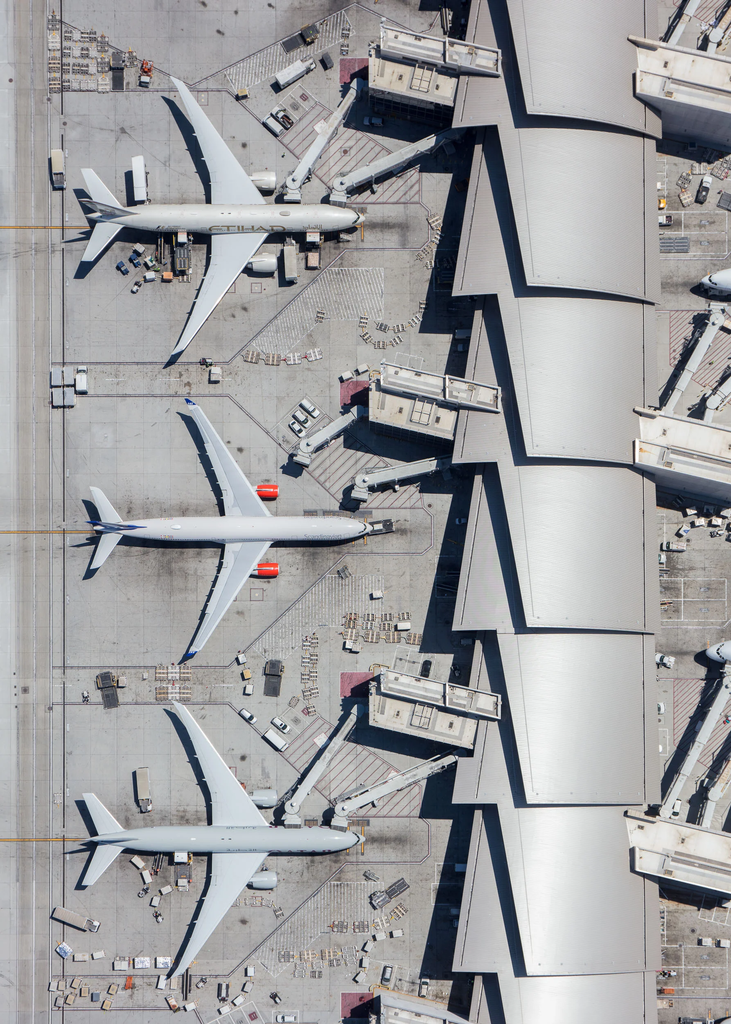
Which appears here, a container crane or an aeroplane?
aeroplane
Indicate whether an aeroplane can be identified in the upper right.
Yes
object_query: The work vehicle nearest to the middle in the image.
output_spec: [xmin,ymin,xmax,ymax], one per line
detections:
[368,518,396,536]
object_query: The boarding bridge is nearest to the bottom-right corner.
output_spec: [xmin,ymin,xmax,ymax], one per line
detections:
[699,751,731,827]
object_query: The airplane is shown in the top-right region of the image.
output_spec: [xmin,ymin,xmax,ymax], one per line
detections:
[701,267,731,292]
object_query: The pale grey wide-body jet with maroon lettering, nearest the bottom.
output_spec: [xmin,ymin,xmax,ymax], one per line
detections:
[78,699,366,978]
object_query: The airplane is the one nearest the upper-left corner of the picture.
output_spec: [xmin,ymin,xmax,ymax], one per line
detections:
[78,75,365,353]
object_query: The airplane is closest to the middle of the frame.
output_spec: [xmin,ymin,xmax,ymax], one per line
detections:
[86,395,373,656]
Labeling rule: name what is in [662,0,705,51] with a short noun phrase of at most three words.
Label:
jet bridge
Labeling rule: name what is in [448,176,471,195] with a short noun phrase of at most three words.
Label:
vehicle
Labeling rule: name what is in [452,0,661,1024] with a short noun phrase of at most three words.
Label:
building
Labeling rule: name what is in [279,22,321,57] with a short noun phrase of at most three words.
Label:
work vehicle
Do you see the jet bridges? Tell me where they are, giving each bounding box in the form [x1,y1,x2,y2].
[280,702,369,826]
[662,0,705,51]
[348,449,461,503]
[280,77,370,204]
[328,748,466,830]
[659,299,731,419]
[326,119,461,207]
[699,751,731,827]
[701,370,731,425]
[291,403,369,470]
[703,0,731,58]
[655,660,731,821]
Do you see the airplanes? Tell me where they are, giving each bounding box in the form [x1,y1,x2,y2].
[78,699,366,978]
[706,640,731,662]
[78,75,365,353]
[701,267,731,292]
[86,395,373,656]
